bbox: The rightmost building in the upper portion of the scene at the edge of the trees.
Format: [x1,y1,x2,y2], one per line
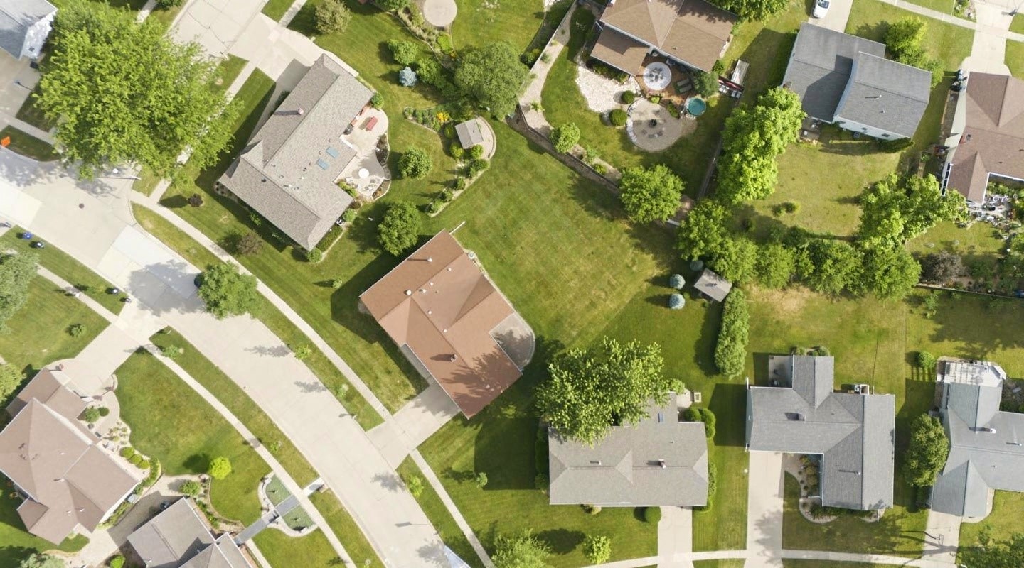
[935,71,1024,205]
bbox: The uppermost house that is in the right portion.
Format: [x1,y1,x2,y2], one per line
[590,0,738,77]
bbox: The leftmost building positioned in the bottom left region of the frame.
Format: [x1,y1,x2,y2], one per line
[0,367,146,546]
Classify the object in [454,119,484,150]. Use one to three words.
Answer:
shed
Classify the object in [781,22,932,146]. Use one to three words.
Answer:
house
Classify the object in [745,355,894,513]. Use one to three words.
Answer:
house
